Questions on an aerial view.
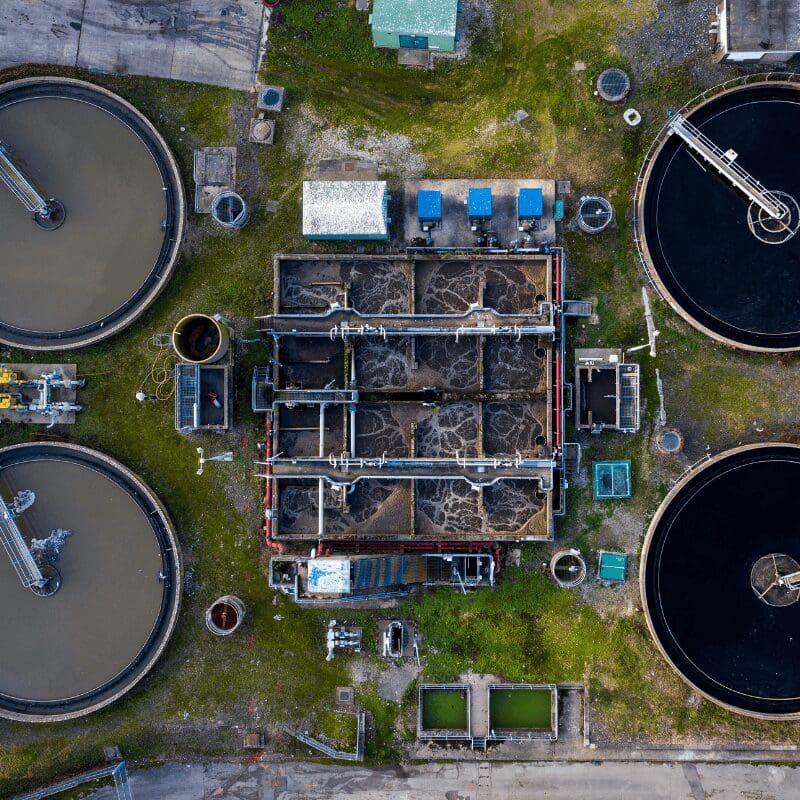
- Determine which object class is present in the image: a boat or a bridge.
bridge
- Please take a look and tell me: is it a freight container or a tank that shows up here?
tank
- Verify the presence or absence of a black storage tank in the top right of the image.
Yes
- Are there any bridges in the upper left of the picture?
Yes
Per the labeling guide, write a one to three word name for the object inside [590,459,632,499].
storage tank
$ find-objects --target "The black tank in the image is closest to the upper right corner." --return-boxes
[630,65,800,354]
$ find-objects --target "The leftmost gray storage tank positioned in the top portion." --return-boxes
[0,77,190,353]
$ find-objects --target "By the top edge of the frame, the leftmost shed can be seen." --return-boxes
[369,0,463,49]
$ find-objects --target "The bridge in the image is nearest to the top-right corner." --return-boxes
[677,119,783,220]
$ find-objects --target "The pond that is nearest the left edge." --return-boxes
[418,679,470,739]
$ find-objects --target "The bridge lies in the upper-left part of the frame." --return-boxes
[0,150,52,217]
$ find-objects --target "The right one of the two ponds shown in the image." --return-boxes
[486,679,558,739]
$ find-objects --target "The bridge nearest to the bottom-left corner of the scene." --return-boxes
[0,477,49,578]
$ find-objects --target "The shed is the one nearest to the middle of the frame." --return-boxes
[302,180,388,240]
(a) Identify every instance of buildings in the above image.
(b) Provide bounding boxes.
[302,180,388,240]
[369,0,463,49]
[708,0,800,64]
